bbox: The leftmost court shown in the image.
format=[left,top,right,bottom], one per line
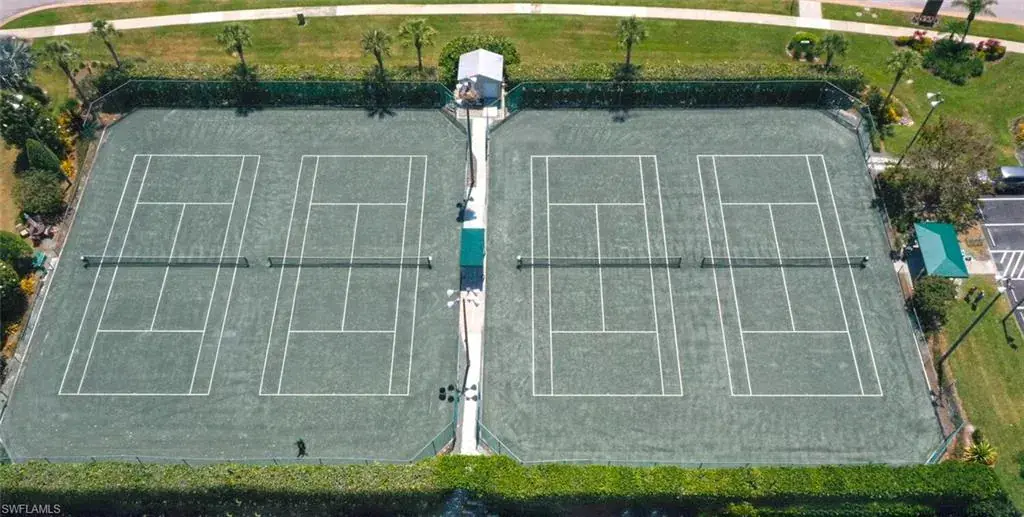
[0,107,290,471]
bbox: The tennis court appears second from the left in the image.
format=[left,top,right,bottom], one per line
[220,107,465,471]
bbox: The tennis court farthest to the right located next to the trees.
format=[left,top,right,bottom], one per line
[670,106,944,472]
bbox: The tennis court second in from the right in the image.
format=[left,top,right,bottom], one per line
[483,106,717,472]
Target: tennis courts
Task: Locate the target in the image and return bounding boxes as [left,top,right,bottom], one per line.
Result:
[220,107,465,471]
[483,106,717,472]
[0,107,290,471]
[670,106,944,472]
